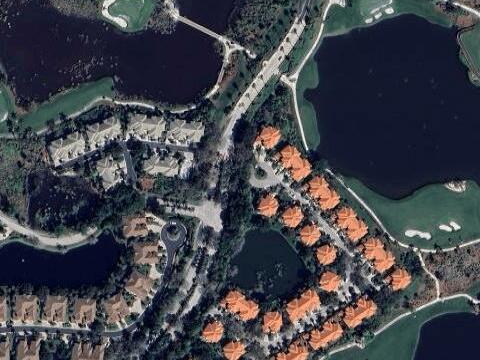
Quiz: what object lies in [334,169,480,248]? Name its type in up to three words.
golf course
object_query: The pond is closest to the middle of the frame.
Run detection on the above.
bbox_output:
[229,228,308,299]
